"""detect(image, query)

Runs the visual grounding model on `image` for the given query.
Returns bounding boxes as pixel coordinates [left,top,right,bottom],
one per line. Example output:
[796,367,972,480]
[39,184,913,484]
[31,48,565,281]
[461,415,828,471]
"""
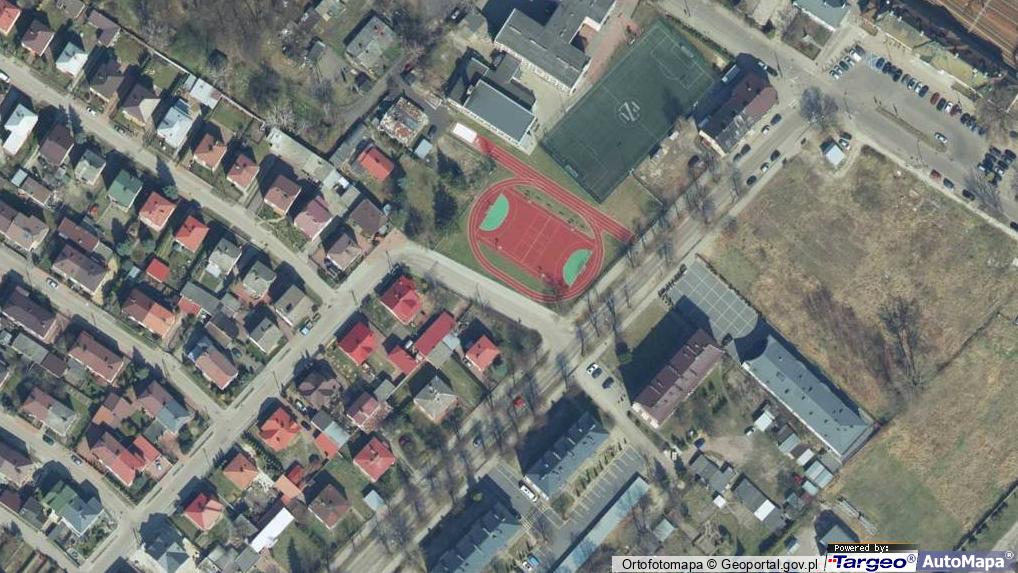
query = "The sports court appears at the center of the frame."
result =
[476,190,596,286]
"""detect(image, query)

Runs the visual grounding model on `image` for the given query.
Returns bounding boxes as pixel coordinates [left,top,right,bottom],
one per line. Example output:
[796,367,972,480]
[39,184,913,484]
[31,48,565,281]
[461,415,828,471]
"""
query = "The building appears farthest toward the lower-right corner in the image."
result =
[819,523,858,562]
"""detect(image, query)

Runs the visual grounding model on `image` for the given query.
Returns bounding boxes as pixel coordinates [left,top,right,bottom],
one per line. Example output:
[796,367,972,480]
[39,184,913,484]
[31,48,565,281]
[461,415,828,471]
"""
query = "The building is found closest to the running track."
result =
[463,79,536,147]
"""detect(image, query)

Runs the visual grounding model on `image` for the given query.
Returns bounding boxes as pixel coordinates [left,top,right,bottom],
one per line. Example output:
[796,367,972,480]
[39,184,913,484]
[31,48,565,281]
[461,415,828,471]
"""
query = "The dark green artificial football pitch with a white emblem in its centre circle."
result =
[543,21,714,202]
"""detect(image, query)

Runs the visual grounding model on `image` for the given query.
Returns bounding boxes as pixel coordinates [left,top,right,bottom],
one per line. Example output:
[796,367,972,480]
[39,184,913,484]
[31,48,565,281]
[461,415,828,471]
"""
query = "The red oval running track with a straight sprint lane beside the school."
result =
[468,134,635,298]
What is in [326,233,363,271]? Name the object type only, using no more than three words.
house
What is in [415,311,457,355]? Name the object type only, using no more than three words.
building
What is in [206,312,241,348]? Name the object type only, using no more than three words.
shed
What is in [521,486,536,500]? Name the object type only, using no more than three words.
vehicle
